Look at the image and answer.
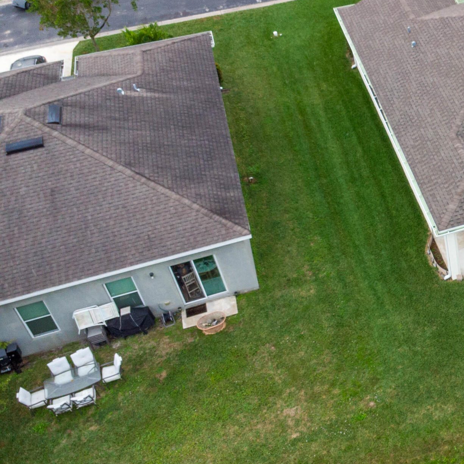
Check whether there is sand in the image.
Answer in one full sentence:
No, the scene doesn't show any sand.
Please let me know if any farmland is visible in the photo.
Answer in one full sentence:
No, farmland can't be seen anywhere here.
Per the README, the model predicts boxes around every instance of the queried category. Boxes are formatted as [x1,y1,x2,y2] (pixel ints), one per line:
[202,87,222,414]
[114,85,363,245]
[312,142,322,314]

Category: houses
[334,0,464,285]
[0,30,259,356]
